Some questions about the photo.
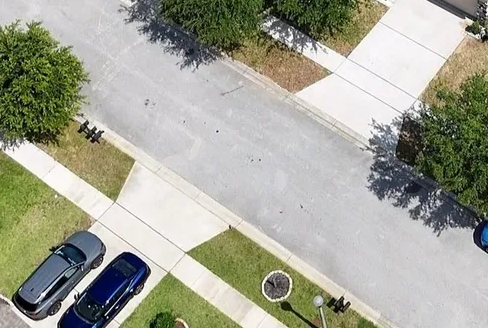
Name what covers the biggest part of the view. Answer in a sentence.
The bulk of the photo consists of paved ground.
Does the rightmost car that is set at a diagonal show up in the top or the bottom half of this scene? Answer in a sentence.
Seen from above, the rightmost car that is set at a diagonal lies in the bottom half of the view.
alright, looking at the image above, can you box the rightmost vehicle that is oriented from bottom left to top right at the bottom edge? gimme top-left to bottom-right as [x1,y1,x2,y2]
[59,249,152,328]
